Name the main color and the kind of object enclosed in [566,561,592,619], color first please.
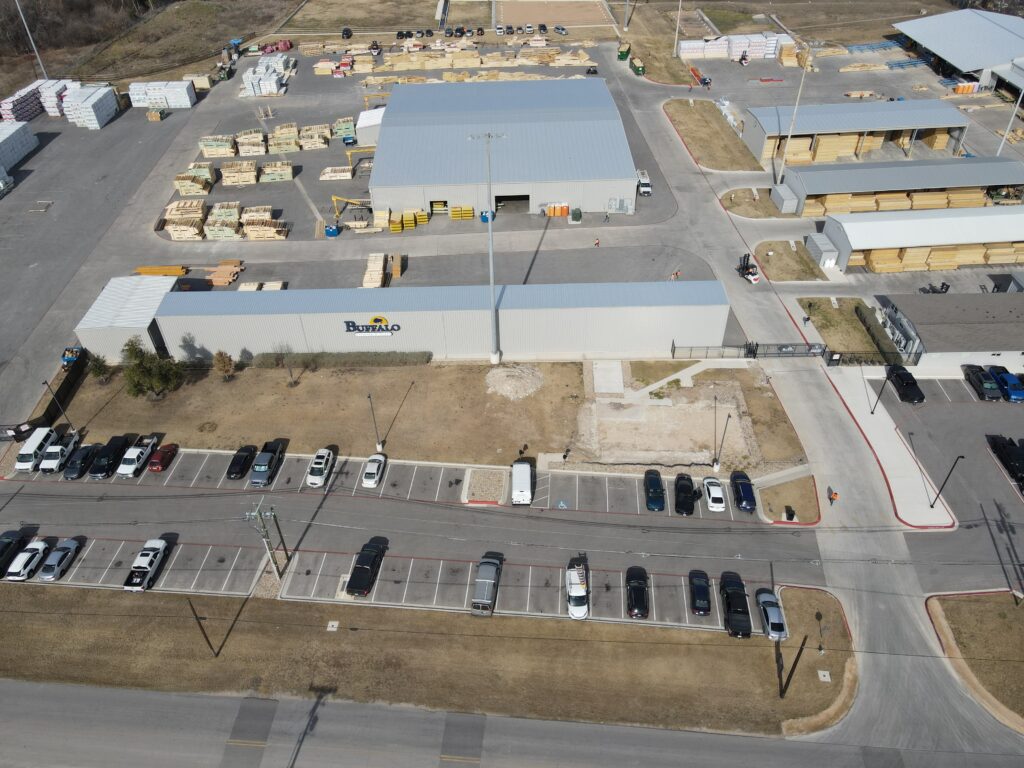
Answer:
white vehicle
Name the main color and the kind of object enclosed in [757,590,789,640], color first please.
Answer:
gray car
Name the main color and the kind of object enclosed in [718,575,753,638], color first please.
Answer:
black truck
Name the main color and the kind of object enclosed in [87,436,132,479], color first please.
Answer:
black truck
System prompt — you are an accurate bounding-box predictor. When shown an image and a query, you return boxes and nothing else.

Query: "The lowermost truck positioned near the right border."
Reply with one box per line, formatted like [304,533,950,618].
[993,442,1024,488]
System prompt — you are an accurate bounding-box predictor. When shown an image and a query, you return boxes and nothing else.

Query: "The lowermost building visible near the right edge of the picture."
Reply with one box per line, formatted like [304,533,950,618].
[883,293,1024,370]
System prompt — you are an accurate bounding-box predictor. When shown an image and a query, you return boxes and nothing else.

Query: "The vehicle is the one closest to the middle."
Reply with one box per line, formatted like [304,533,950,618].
[511,460,535,505]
